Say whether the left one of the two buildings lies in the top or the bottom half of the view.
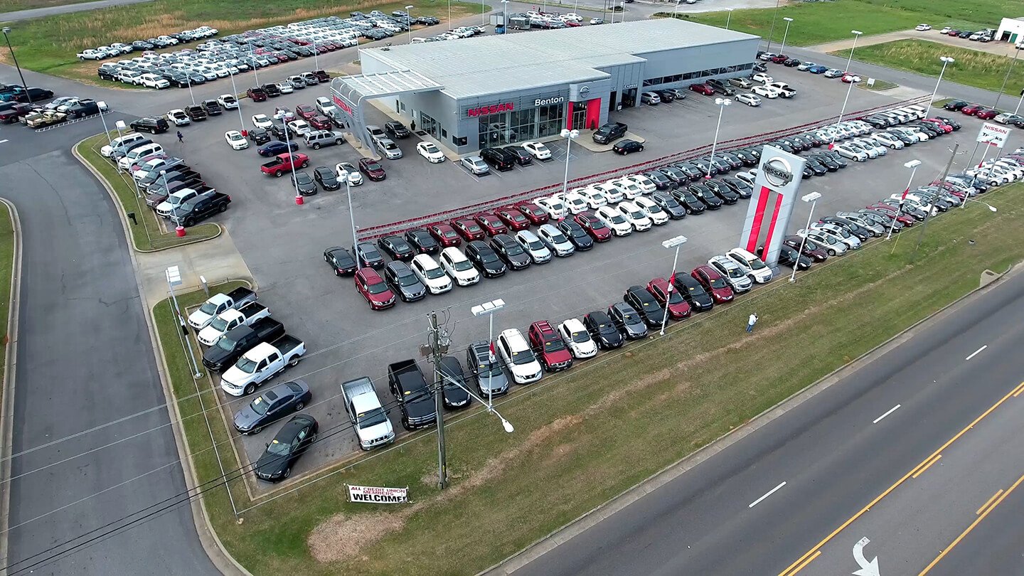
top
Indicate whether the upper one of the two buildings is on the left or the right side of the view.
right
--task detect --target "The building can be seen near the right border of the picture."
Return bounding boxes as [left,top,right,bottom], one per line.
[995,17,1024,49]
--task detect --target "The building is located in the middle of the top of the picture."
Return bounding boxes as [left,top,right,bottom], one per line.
[351,16,763,153]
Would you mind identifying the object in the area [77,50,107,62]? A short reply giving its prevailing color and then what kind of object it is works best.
white vehicle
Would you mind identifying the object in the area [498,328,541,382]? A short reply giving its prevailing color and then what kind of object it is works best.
white car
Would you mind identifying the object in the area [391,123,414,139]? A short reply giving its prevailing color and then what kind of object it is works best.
black car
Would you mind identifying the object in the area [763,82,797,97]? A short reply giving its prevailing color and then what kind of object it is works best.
white vehicle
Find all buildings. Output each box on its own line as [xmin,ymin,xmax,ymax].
[351,16,763,153]
[995,17,1024,49]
